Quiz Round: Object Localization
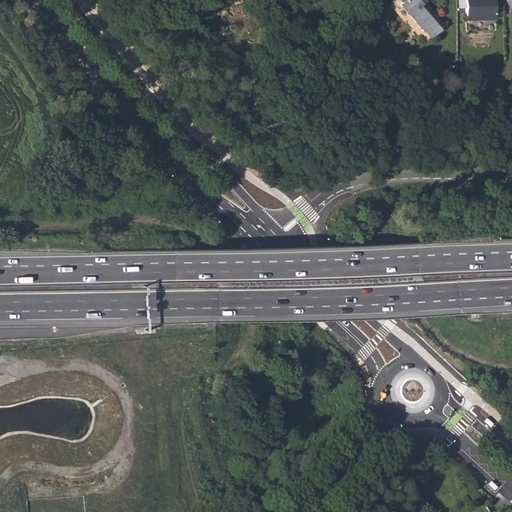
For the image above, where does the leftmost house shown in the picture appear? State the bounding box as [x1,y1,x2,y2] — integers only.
[399,0,444,38]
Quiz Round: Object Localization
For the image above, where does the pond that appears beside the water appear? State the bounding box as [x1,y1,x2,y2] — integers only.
[0,397,106,440]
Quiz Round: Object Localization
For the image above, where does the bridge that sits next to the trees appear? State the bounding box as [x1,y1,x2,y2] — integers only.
[171,244,466,324]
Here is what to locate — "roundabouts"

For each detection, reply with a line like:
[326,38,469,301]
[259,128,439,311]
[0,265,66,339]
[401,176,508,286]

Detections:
[372,349,454,432]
